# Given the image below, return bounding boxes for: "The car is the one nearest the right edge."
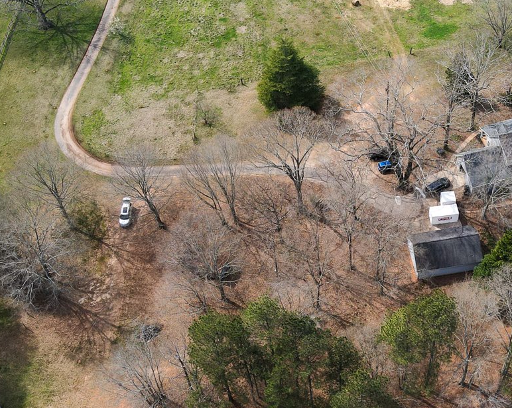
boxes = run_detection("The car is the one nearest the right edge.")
[425,177,453,195]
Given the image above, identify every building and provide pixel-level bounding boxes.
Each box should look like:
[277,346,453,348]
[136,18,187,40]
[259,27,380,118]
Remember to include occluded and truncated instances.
[454,120,512,195]
[409,229,481,278]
